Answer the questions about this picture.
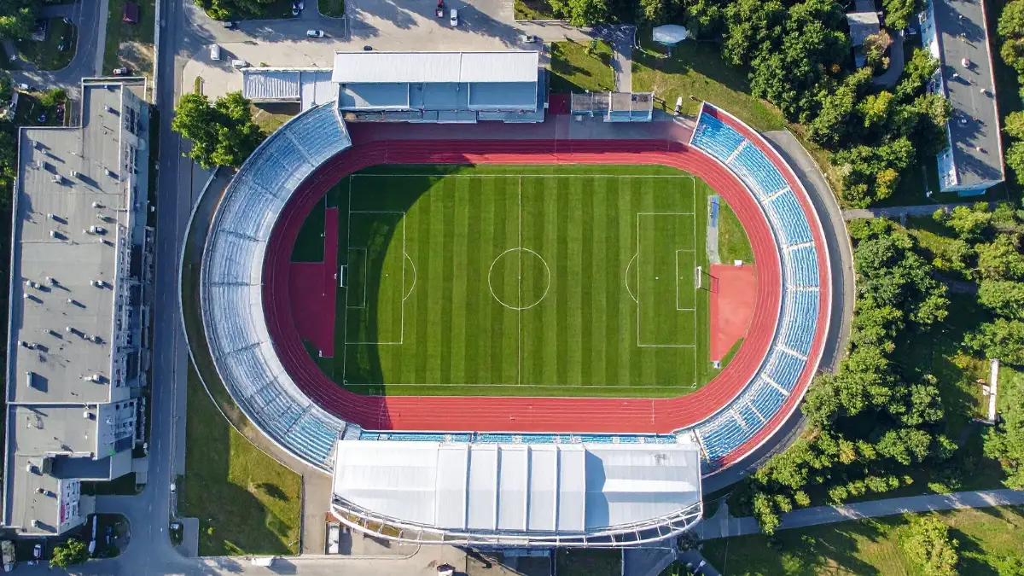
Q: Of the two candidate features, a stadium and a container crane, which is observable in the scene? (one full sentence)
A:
Looking from above, you can make out a stadium.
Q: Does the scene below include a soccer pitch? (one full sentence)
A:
Yes, there's a soccer pitch here.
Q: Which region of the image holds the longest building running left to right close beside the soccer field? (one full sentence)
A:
The longest building running left to right close beside the soccer field appears toward the top of the photo.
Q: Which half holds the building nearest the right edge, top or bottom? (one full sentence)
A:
The building nearest the right edge sits in the top half of the picture.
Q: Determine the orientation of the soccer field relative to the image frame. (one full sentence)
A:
Seen from above, the soccer field lies from left to right.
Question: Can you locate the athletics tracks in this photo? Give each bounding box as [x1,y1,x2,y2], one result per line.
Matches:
[263,119,781,431]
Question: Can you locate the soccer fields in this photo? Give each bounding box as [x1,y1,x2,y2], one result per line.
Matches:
[288,163,757,396]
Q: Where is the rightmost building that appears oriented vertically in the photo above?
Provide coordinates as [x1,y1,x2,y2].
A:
[911,0,1005,197]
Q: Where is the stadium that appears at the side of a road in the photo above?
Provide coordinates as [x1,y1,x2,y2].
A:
[201,100,831,546]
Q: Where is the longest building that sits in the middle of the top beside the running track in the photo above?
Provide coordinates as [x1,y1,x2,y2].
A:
[331,51,550,126]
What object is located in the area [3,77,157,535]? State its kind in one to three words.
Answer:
building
